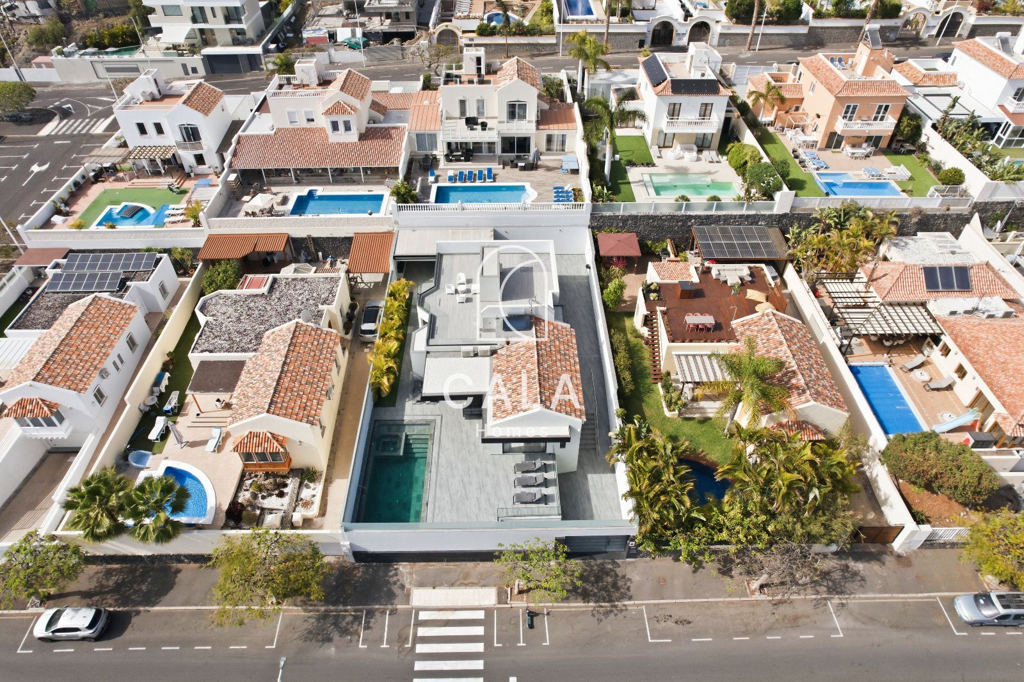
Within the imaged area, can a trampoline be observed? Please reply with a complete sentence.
No, no trampoline is visible in the scene.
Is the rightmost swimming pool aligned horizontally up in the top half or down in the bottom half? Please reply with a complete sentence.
Seen from above, the rightmost swimming pool aligned horizontally lies in the top half of the view.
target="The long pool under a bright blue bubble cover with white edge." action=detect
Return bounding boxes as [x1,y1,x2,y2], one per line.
[845,358,933,440]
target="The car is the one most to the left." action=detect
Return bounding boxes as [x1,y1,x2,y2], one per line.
[23,603,110,646]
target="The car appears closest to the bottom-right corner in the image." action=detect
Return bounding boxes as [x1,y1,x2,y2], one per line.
[962,592,1024,634]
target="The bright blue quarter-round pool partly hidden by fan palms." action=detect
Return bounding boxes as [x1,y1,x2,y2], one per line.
[140,459,217,525]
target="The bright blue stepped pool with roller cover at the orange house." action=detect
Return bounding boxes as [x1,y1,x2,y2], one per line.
[811,171,906,198]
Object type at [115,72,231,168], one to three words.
house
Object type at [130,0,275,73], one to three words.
house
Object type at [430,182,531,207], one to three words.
swimming pool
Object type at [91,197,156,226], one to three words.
swimming pool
